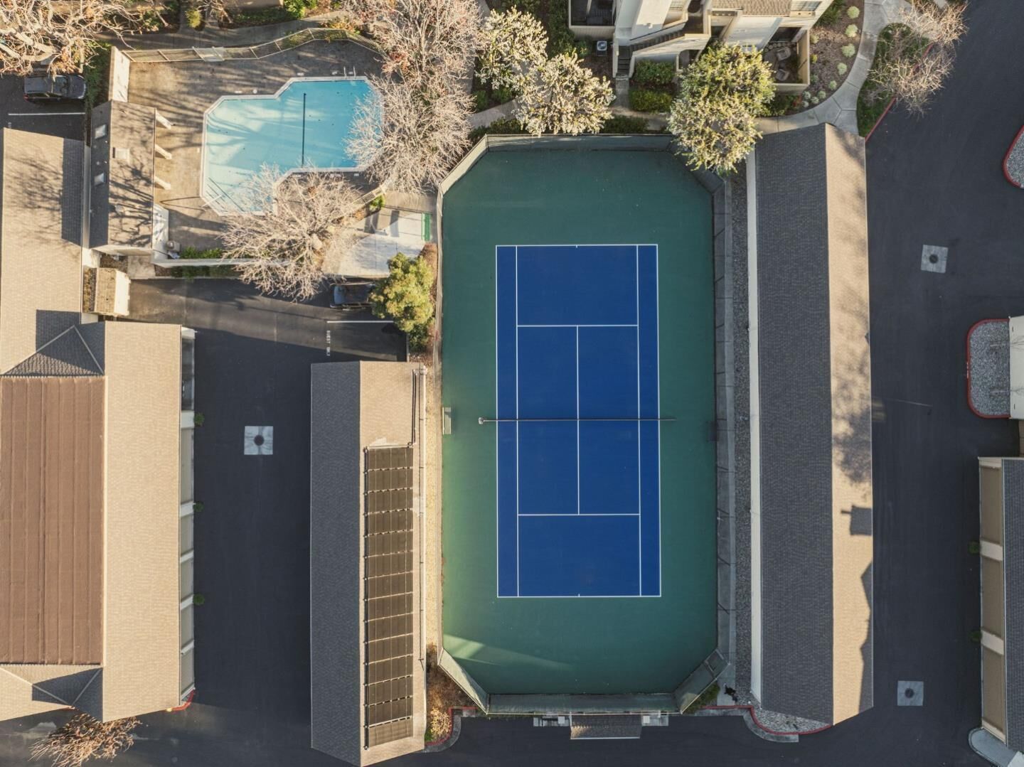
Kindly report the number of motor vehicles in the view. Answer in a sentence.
My tally gives 2 motor vehicles in this view.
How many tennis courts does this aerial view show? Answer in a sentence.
My tally gives 1 tennis court in this photo.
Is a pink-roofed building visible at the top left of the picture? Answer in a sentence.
No, no pink-roofed building can be made out at the top left of the picture.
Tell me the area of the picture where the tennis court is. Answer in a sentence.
The tennis court is in the center part of the image.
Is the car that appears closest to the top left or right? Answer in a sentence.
You can find the car that appears closest to the top on the left side of the picture.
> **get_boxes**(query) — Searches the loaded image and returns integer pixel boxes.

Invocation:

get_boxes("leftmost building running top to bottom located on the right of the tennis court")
[748,126,874,731]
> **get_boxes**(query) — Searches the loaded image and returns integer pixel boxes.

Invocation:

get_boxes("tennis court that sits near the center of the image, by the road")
[442,149,718,693]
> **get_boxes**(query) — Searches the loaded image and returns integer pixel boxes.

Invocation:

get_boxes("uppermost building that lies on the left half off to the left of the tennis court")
[92,103,173,257]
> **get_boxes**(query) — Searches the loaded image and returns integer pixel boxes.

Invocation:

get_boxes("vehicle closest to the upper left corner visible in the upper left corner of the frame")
[15,65,86,103]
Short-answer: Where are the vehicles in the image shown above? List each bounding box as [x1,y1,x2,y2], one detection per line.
[327,275,393,308]
[15,65,86,103]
